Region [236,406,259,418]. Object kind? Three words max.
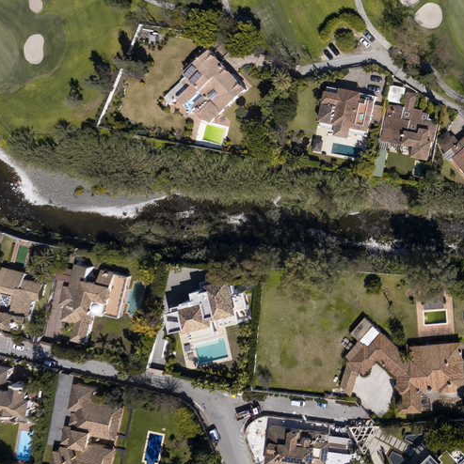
vehicle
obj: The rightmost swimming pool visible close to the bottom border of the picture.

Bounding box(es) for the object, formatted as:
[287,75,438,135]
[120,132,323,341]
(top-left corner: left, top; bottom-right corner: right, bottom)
[141,432,165,464]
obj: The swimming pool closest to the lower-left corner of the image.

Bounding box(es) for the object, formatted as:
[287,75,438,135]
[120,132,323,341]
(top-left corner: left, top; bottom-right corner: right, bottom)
[14,431,34,462]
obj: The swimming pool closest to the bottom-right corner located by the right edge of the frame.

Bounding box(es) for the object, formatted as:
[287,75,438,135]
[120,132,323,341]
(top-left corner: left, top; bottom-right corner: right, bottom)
[422,310,447,326]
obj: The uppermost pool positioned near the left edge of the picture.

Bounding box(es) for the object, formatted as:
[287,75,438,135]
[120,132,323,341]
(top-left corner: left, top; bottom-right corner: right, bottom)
[11,241,32,267]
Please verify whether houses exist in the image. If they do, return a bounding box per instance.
[0,354,39,419]
[164,280,253,335]
[312,84,379,139]
[58,261,127,344]
[338,315,464,417]
[380,91,440,161]
[0,267,47,333]
[52,380,129,464]
[166,47,250,123]
[438,134,464,171]
[262,422,330,464]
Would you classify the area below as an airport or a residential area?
residential area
